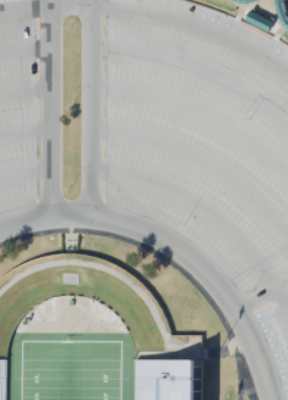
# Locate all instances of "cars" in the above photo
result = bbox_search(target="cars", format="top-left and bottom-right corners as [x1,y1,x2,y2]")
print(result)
[188,5,194,13]
[256,289,266,296]
[24,28,28,39]
[32,64,36,74]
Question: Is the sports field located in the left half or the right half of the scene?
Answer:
left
